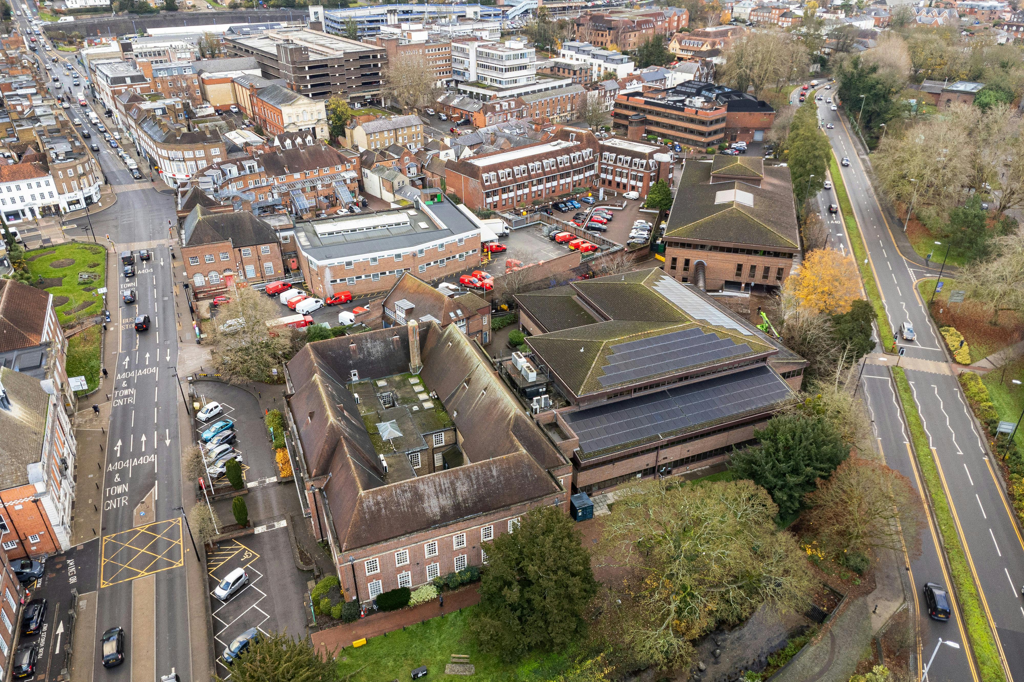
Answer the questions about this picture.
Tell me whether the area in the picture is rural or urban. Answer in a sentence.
From above, the setting appears urban.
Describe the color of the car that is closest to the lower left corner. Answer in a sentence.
The car that is closest to the lower left corner looks black in the image.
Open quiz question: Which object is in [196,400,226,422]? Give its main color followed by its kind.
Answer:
white car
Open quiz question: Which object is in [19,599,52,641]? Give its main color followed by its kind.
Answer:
black car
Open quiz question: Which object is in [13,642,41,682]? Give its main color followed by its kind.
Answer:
black car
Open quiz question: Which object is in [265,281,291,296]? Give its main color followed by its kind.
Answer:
red vehicle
